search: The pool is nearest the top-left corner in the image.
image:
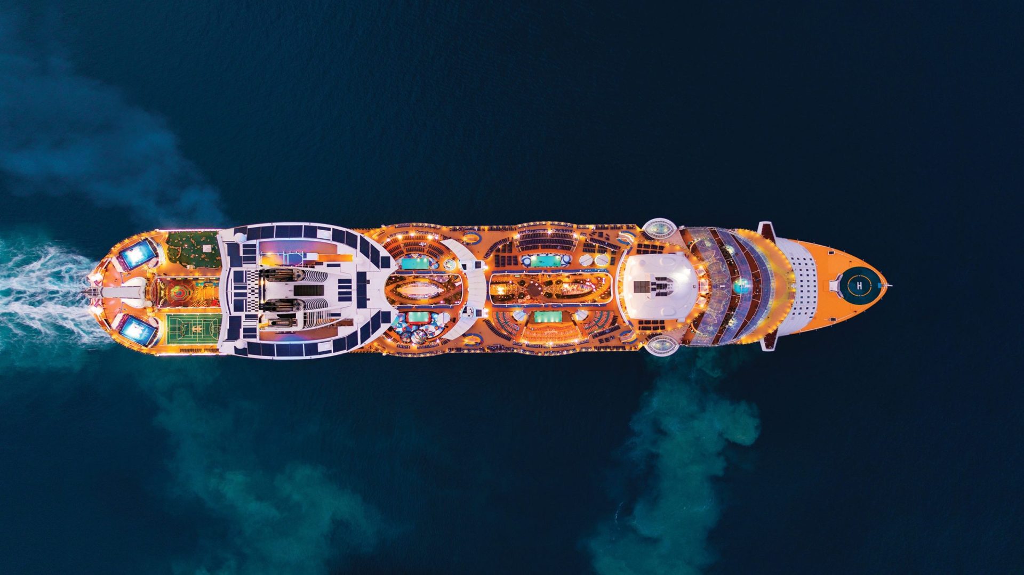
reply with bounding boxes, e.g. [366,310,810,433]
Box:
[397,253,440,269]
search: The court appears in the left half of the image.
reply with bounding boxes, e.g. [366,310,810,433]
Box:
[164,313,224,345]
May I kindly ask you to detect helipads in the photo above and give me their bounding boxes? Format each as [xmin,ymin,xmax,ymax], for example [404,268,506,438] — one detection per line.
[827,266,881,305]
